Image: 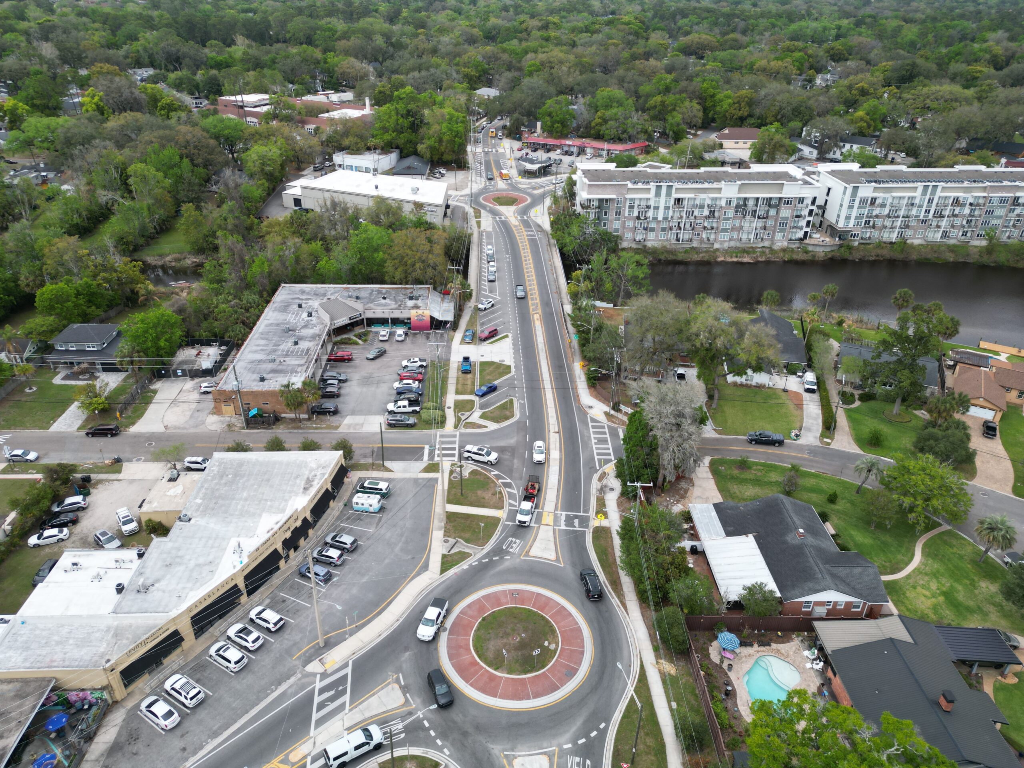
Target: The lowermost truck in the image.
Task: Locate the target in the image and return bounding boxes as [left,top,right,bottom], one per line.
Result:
[323,725,384,768]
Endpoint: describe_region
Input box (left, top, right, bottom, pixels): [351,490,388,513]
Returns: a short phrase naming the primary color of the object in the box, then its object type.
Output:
white camper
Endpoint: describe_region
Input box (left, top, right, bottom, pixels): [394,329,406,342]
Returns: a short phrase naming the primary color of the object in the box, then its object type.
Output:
white vehicle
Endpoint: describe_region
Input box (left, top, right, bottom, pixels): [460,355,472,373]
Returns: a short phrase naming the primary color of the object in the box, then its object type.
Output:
blue vehicle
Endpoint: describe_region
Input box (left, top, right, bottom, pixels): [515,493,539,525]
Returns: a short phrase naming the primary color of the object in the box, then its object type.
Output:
white truck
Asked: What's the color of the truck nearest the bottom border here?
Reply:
white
